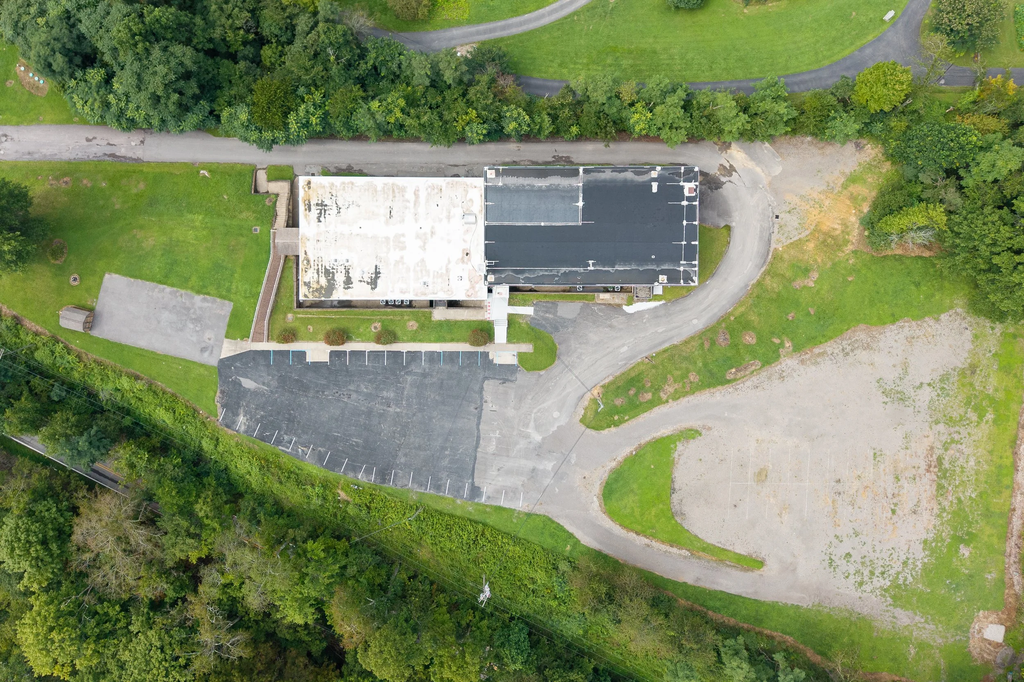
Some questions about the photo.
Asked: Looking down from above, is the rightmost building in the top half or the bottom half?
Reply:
top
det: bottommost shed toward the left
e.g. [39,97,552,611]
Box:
[57,308,97,333]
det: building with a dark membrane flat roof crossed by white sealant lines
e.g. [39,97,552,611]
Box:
[483,165,700,287]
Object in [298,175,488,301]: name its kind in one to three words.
building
